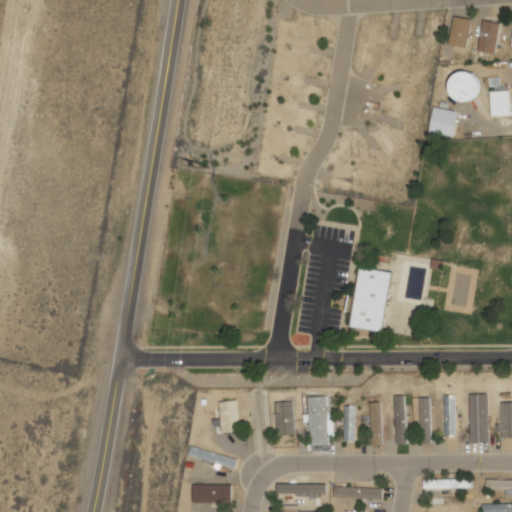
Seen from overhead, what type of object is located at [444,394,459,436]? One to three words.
house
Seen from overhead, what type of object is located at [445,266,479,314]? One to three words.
sports court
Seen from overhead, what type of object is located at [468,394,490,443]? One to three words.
house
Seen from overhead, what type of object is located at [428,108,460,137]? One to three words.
building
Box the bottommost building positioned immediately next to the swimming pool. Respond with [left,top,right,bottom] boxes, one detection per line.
[349,268,392,330]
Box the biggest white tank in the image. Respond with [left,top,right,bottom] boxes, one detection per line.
[447,69,482,104]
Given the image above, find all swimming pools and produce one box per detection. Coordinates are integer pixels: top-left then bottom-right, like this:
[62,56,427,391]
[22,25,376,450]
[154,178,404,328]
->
[398,262,431,304]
